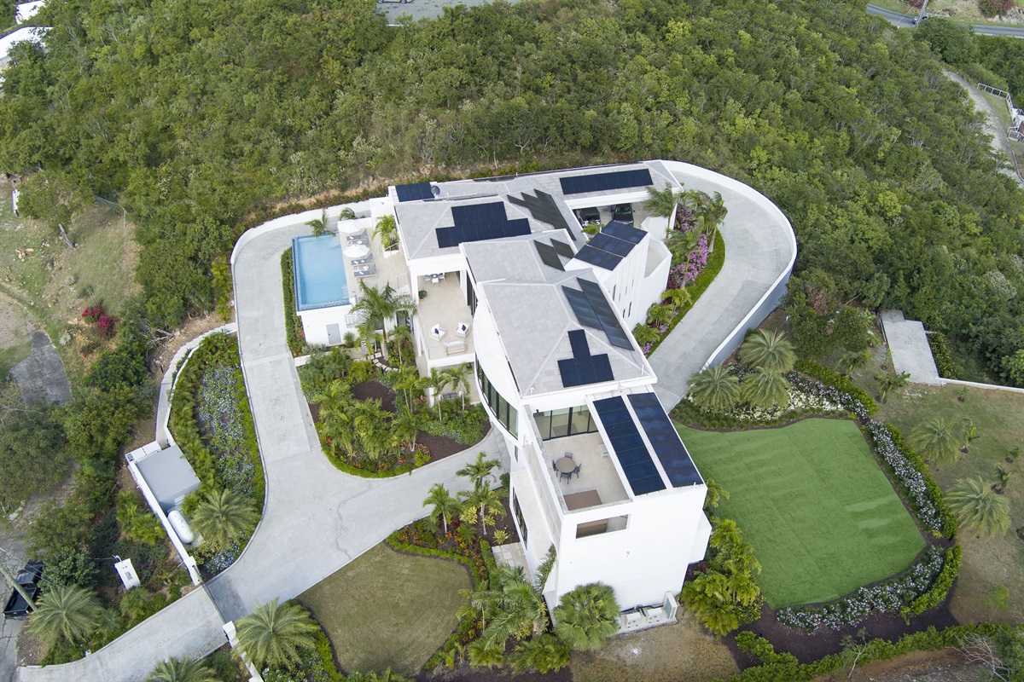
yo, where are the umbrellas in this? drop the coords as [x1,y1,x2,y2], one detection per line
[335,218,362,243]
[342,242,372,272]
